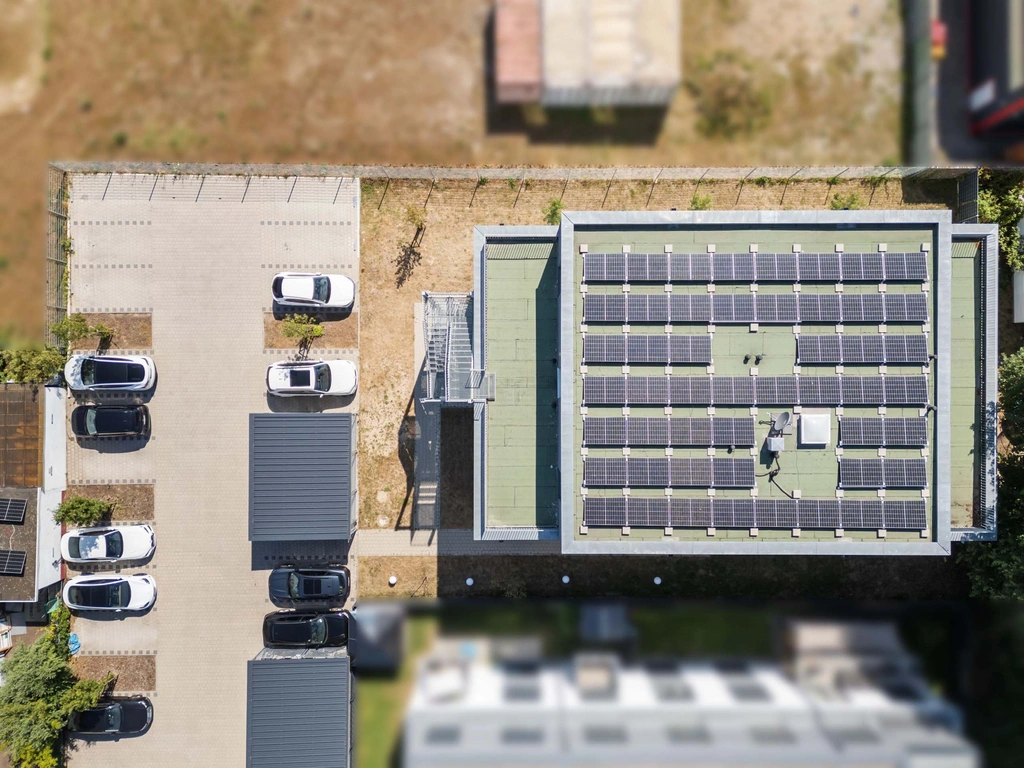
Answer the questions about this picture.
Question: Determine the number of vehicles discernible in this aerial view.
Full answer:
Looking from above, you can make out 9 vehicles.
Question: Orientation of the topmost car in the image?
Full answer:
From this overhead view, the topmost car appears to run from side to side.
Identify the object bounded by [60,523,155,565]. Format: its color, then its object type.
white car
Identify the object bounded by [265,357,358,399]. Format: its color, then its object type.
white car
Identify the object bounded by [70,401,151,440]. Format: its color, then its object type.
black car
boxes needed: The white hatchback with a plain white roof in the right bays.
[273,270,355,309]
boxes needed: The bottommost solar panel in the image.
[0,547,28,575]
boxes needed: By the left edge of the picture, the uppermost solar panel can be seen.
[0,497,28,524]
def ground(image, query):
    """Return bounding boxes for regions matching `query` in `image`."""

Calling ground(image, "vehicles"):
[62,572,157,614]
[66,696,155,739]
[273,270,355,309]
[70,401,151,440]
[270,566,352,608]
[60,523,155,565]
[265,357,358,399]
[262,609,350,648]
[63,351,157,394]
